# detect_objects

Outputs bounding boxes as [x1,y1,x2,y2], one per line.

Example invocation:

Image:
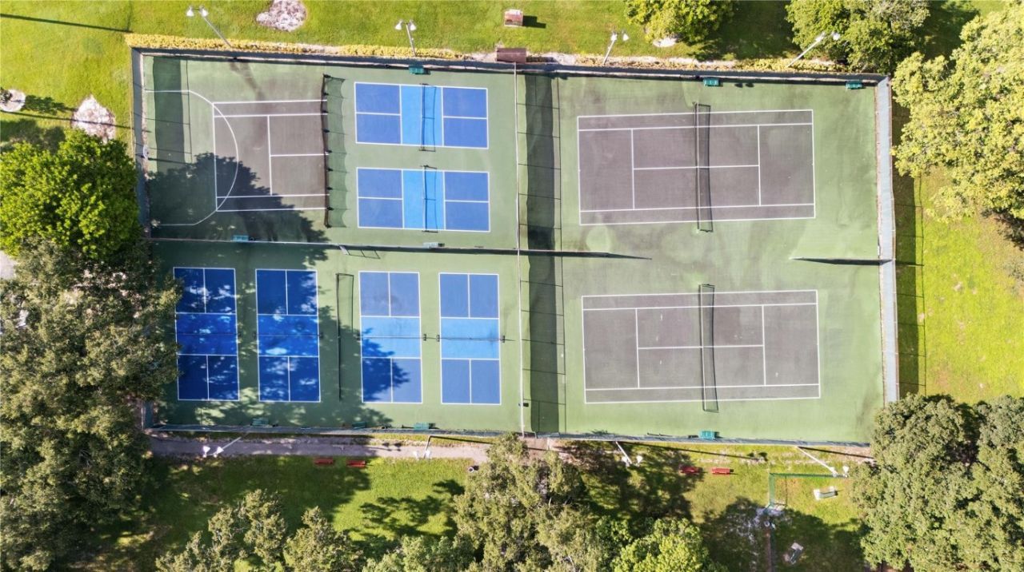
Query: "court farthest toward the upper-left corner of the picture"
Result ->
[146,90,327,225]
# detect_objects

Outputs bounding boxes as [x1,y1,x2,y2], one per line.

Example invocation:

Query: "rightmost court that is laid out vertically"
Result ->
[439,273,501,405]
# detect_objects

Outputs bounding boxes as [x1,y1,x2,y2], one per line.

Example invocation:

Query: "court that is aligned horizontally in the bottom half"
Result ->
[582,290,821,403]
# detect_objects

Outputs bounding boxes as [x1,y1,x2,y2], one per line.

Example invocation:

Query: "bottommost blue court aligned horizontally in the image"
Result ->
[357,167,491,232]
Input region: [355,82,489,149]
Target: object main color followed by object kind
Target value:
blue sports court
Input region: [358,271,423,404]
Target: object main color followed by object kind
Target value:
blue sports court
